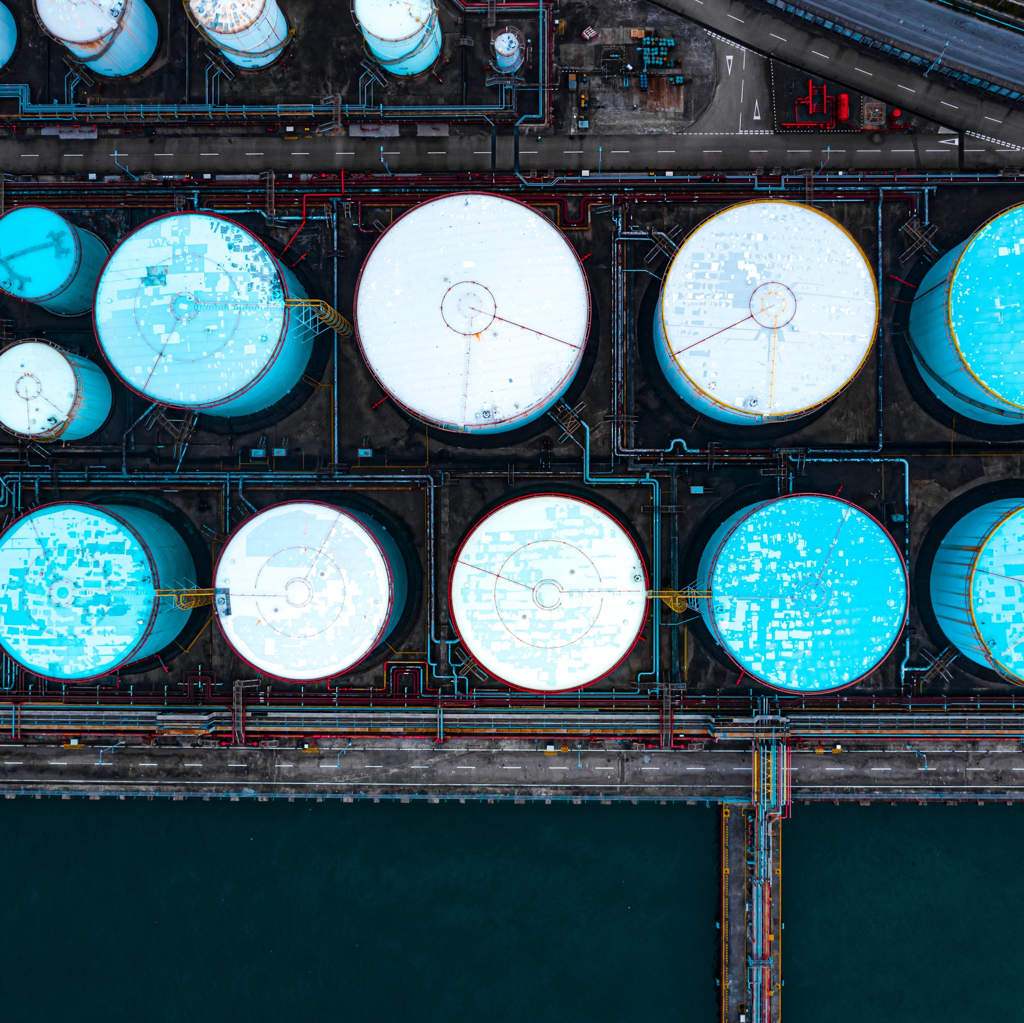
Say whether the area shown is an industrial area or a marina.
industrial area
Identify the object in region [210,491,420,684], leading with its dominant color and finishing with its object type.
white storage tank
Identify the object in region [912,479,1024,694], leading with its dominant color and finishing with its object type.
blue storage tank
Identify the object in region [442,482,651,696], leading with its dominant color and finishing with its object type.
white storage tank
